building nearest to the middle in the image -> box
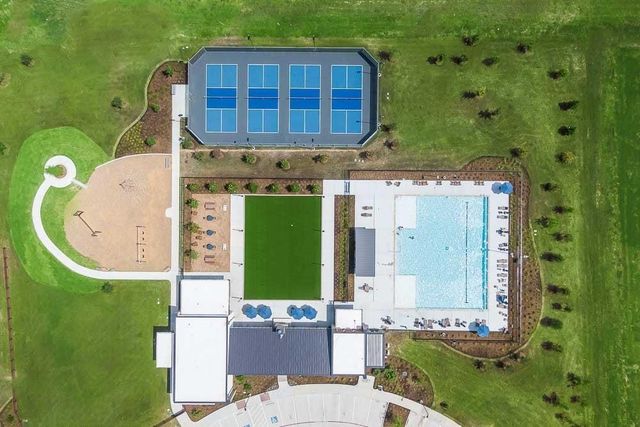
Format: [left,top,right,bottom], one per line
[354,228,376,276]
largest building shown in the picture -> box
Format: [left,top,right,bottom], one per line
[156,277,385,403]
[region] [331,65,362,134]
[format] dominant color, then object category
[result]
blue sports court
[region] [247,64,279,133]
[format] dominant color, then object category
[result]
blue sports court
